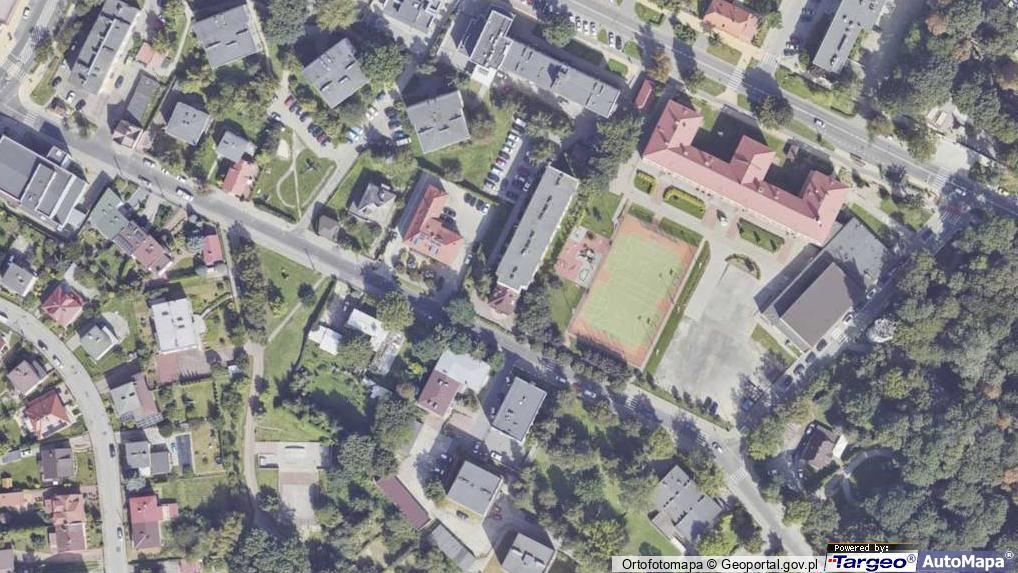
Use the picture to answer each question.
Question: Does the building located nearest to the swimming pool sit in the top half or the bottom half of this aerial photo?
bottom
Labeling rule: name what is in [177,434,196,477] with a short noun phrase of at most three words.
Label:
swimming pool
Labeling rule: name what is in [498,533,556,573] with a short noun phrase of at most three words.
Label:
building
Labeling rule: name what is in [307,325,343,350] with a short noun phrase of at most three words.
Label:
shed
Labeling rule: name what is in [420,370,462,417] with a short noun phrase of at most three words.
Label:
house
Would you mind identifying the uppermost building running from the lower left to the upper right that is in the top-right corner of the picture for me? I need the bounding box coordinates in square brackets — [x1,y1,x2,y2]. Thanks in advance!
[812,0,890,76]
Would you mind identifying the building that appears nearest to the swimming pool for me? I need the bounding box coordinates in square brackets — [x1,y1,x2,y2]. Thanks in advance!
[151,450,172,475]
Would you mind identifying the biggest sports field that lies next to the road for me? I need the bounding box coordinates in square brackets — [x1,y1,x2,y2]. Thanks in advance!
[565,211,706,371]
